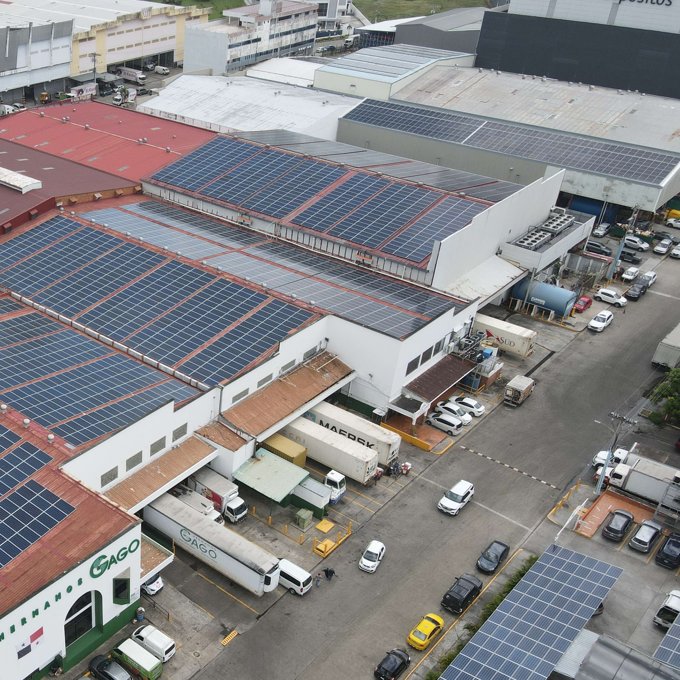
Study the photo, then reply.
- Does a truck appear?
Yes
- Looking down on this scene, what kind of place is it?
industrial area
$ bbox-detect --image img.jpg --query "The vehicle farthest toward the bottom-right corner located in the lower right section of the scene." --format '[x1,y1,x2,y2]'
[655,588,680,632]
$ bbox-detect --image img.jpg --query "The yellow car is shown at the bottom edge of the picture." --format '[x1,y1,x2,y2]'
[405,613,443,655]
